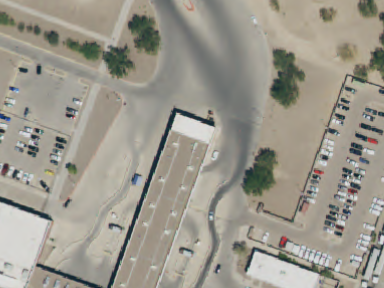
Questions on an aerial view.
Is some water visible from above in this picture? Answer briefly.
No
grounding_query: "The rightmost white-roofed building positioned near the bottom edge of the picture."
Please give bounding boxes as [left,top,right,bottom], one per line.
[247,248,318,288]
